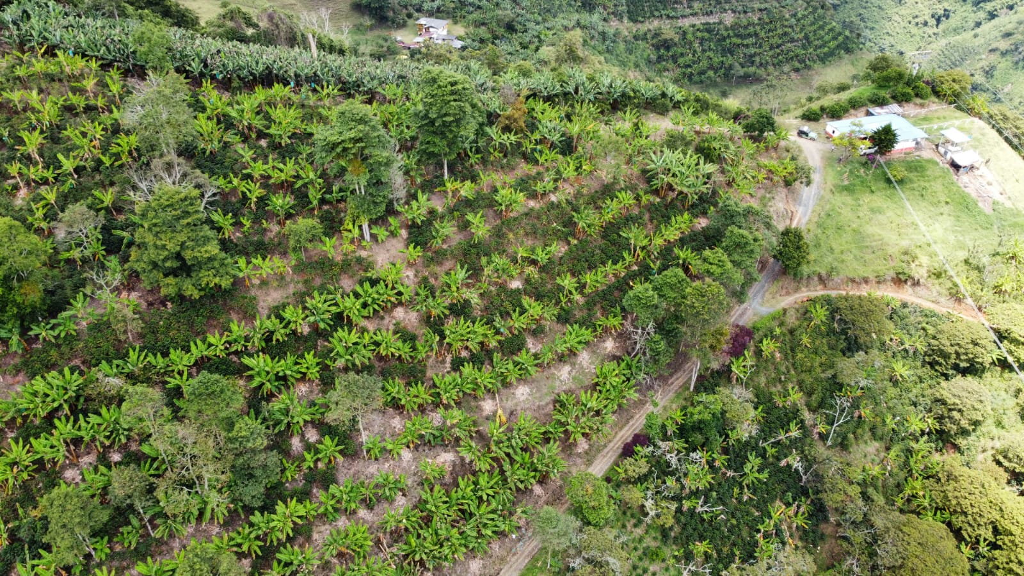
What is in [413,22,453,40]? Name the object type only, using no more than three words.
house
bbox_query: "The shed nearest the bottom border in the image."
[945,149,989,180]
